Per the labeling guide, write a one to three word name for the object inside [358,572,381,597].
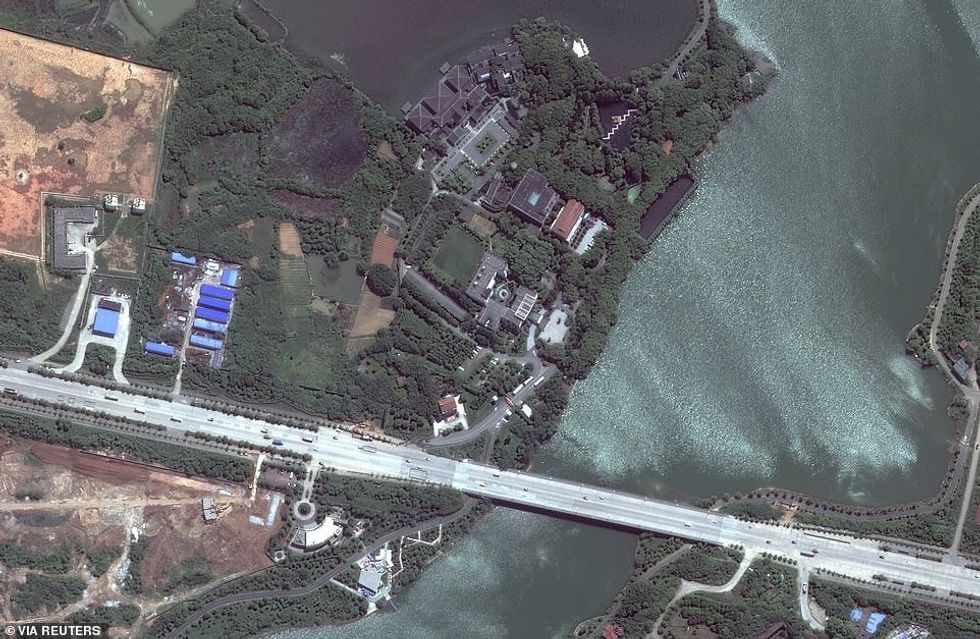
building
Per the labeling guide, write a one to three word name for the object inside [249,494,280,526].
shed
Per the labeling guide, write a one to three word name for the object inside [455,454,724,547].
bridge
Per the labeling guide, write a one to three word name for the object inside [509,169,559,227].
building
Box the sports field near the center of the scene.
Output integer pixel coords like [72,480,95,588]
[430,224,485,285]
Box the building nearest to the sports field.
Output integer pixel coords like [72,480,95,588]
[466,253,506,306]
